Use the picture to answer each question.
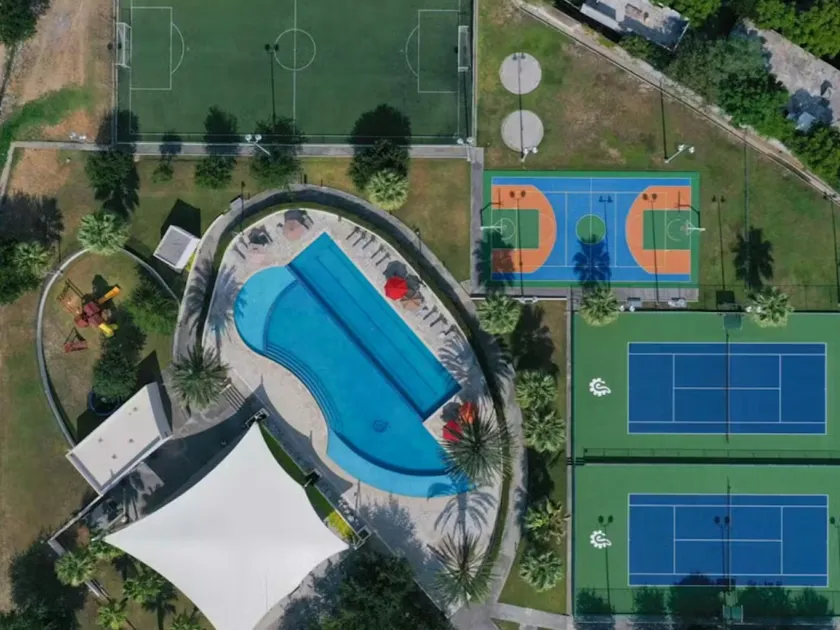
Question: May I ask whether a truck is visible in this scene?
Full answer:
No, I can see no truck in this picture.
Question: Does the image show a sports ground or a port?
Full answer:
The picture captures a sports ground.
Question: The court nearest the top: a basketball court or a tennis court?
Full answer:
From above, the court nearest the top can be identified as a basketball court.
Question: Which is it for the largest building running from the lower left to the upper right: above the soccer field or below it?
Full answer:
Relative to the soccer field, the largest building running from the lower left to the upper right lies below it.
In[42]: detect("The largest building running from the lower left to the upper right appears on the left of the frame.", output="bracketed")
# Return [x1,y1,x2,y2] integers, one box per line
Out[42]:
[66,381,180,493]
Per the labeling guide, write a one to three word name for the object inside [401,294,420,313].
umbrella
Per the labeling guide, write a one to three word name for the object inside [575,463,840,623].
tennis court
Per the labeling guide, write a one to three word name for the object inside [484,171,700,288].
basketball court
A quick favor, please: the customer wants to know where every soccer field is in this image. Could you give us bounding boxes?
[116,0,473,146]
